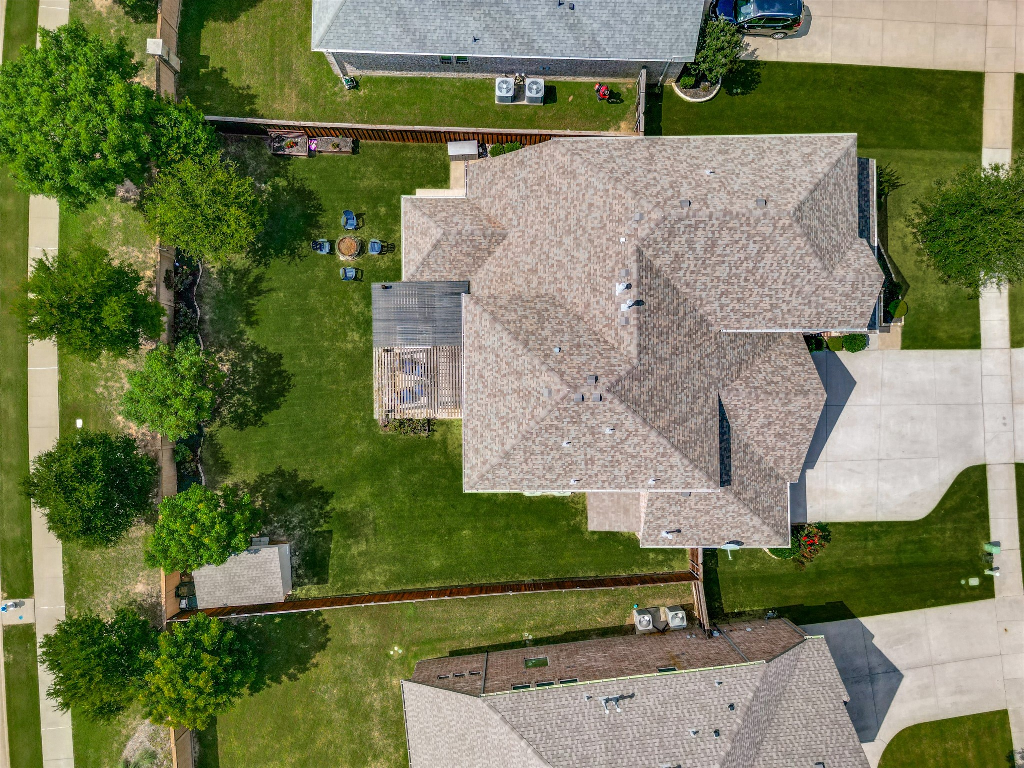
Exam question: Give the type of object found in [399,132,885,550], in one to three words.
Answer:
house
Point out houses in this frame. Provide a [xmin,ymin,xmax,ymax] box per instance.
[404,614,873,768]
[399,132,885,550]
[310,0,705,94]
